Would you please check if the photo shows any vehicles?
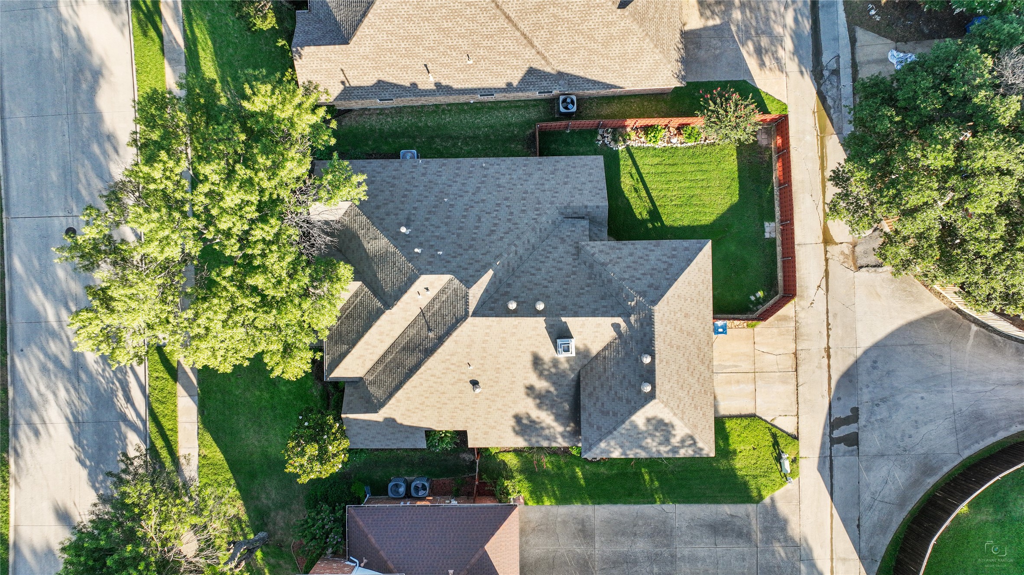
No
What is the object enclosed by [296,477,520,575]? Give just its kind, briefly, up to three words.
house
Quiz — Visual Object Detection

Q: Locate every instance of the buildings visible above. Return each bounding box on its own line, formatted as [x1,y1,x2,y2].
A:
[296,477,520,575]
[309,155,717,460]
[291,0,688,109]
